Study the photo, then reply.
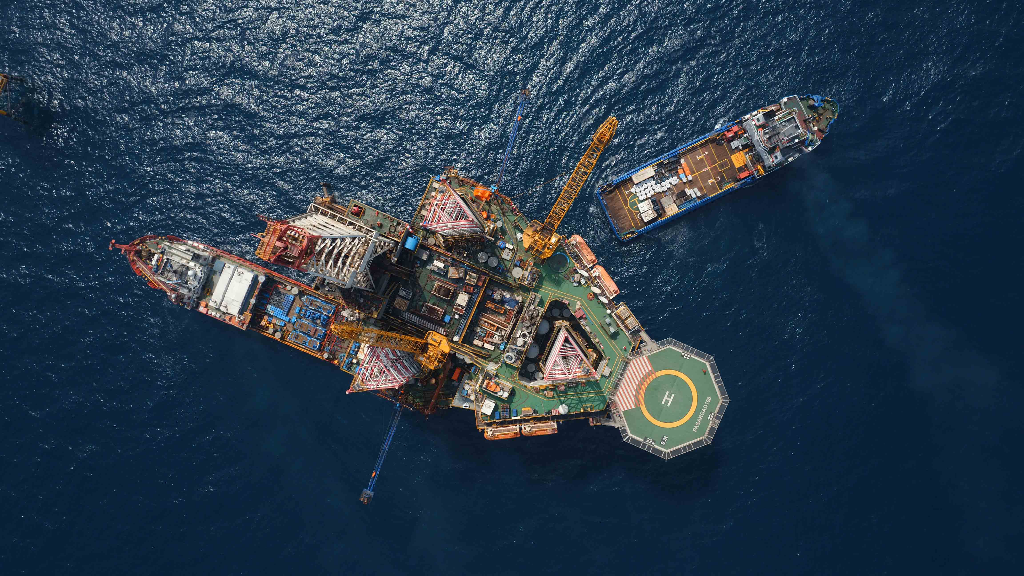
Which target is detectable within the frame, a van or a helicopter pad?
helicopter pad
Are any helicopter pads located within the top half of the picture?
No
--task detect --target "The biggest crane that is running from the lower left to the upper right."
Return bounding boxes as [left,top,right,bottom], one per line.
[522,115,618,263]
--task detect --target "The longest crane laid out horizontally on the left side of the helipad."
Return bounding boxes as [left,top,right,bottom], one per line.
[311,321,452,377]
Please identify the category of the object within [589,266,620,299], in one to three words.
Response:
boat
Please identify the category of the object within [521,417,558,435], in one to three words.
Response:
boat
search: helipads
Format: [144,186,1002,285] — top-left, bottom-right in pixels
[601,331,731,460]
